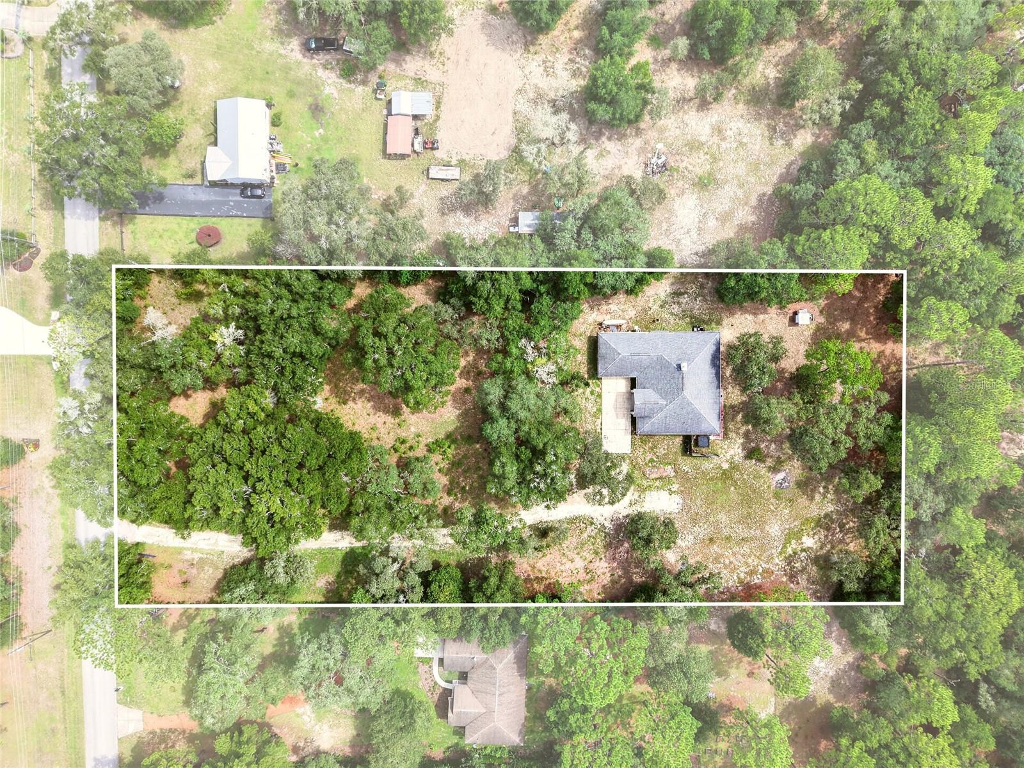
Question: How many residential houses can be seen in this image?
three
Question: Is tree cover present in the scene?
Yes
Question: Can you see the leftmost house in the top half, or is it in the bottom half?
top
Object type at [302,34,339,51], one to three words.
vehicle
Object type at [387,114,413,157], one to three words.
shed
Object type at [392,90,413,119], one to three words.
shed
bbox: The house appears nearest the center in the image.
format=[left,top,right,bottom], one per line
[598,330,722,435]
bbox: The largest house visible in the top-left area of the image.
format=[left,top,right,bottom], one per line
[202,93,276,184]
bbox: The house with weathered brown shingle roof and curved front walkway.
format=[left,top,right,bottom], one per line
[442,632,526,745]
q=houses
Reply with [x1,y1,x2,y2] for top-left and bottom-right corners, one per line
[598,330,722,435]
[442,632,526,745]
[202,93,276,184]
